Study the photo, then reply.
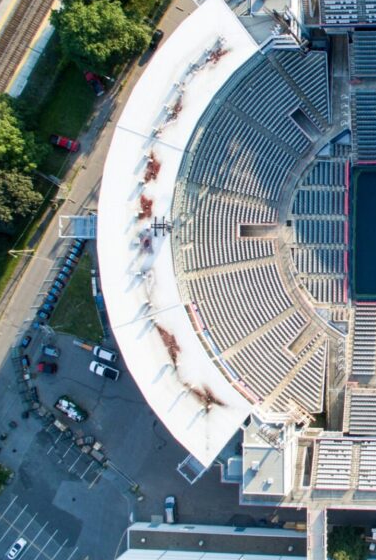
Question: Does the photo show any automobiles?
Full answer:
Yes, there is an automobile in the image.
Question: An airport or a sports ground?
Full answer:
The area seen from above is a sports ground.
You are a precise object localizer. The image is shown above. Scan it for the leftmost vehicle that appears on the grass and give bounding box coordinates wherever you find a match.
[47,131,78,153]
